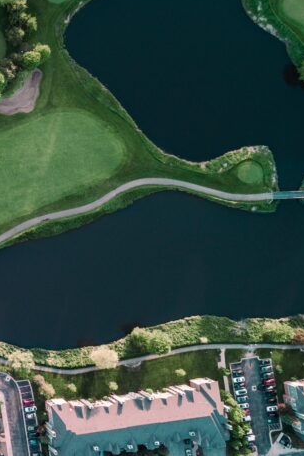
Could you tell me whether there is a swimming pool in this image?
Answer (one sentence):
No, the photo shows no swimming pool.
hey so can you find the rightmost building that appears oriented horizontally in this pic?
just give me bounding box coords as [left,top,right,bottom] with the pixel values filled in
[42,367,228,456]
